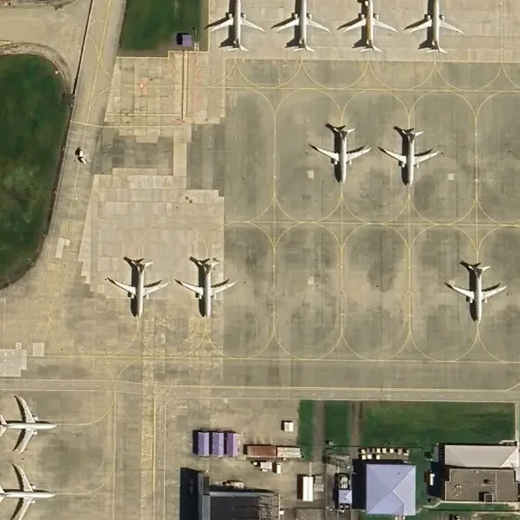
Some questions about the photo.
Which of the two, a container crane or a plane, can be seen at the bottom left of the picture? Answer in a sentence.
What appears at the bottom left of the picture is a plane.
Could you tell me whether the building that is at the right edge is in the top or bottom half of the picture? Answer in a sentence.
The building that is at the right edge is in the bottom half of the image.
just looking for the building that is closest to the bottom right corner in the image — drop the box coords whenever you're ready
[445,445,520,502]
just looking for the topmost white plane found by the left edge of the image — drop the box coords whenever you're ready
[0,397,56,454]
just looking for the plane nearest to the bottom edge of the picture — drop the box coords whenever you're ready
[0,467,54,520]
